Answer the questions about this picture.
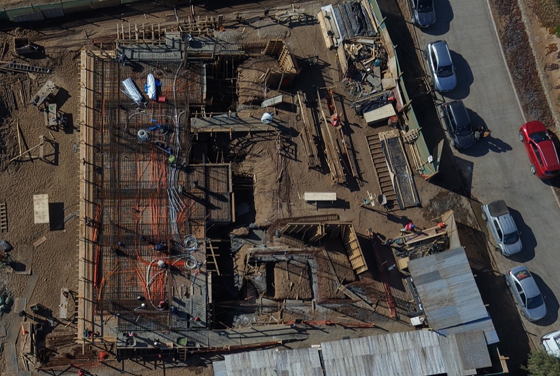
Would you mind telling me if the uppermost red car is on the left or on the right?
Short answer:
right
